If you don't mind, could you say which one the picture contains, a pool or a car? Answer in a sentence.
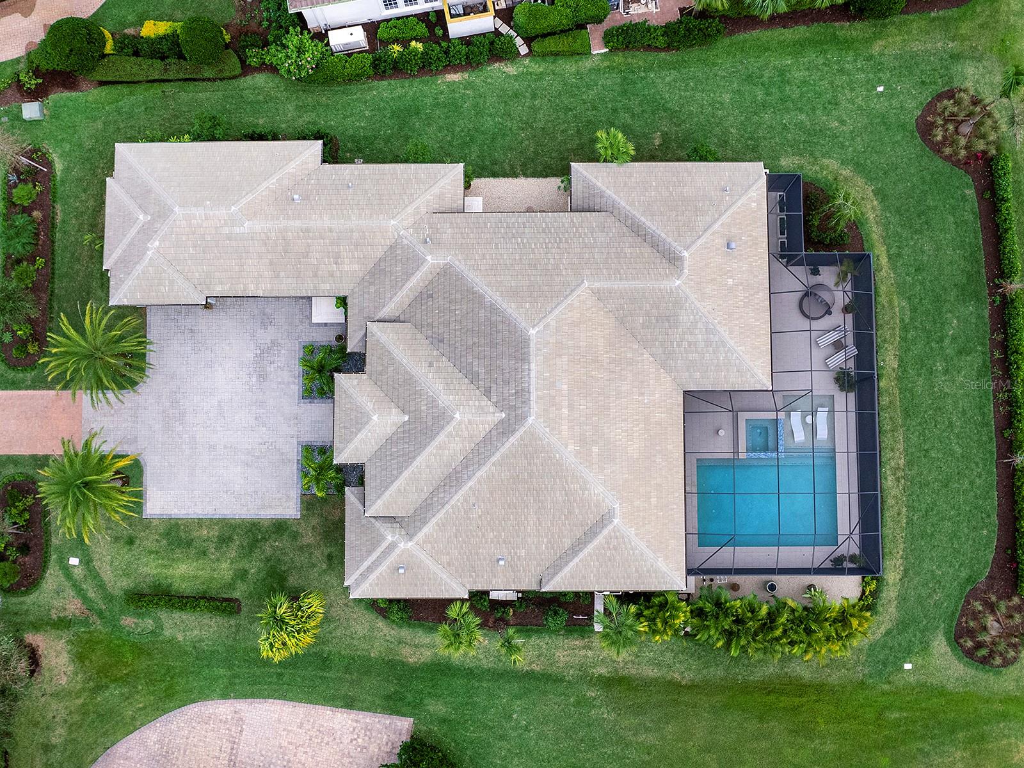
The image shows a pool.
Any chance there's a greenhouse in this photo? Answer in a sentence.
No, the frame has no greenhouse in it.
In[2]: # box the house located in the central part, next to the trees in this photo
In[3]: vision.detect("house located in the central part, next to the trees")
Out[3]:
[101,136,775,603]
